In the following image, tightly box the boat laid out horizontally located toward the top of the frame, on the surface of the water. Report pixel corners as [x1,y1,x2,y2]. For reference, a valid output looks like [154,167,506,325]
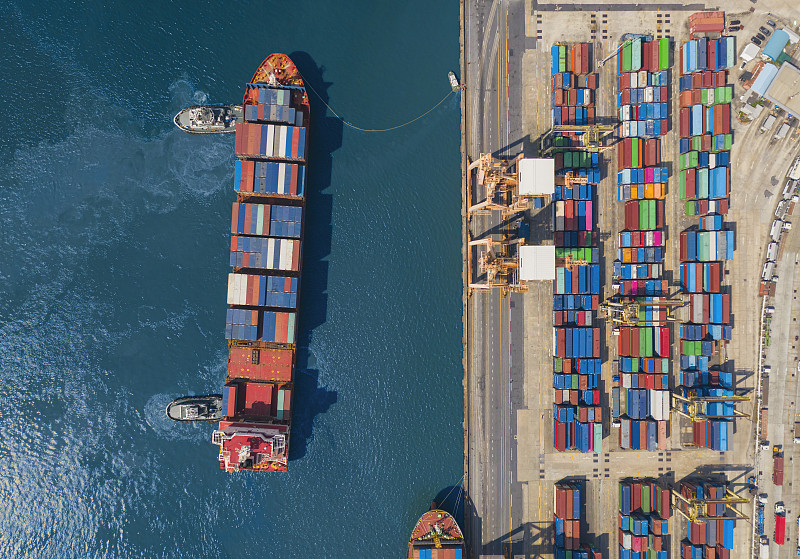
[173,105,243,134]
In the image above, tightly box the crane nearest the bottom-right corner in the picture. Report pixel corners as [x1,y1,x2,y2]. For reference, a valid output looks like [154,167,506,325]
[672,481,755,522]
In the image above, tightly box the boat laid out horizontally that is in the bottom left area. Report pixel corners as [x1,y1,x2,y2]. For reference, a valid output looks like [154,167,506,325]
[166,394,226,422]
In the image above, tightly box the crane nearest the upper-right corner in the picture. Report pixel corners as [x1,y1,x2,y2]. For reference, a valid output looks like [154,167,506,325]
[541,124,616,159]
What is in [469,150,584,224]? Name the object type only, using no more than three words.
container crane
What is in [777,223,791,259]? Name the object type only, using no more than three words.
vehicle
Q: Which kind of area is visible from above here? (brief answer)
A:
port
